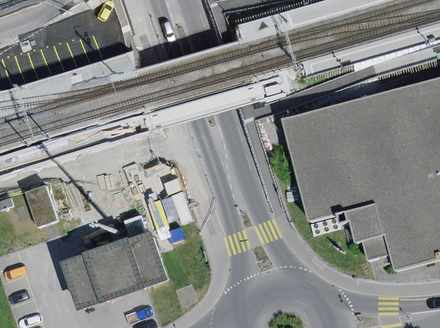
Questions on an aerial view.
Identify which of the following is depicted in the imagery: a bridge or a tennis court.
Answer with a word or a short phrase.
bridge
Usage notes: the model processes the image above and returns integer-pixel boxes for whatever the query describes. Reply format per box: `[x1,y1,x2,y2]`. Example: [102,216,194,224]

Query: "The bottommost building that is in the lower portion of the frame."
[60,232,170,309]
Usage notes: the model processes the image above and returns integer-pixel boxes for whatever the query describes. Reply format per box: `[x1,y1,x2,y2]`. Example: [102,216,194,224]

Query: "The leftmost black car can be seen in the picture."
[8,290,30,304]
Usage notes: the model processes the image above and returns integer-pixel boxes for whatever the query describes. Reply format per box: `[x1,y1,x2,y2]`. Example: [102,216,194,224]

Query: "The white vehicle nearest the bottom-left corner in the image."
[18,315,42,328]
